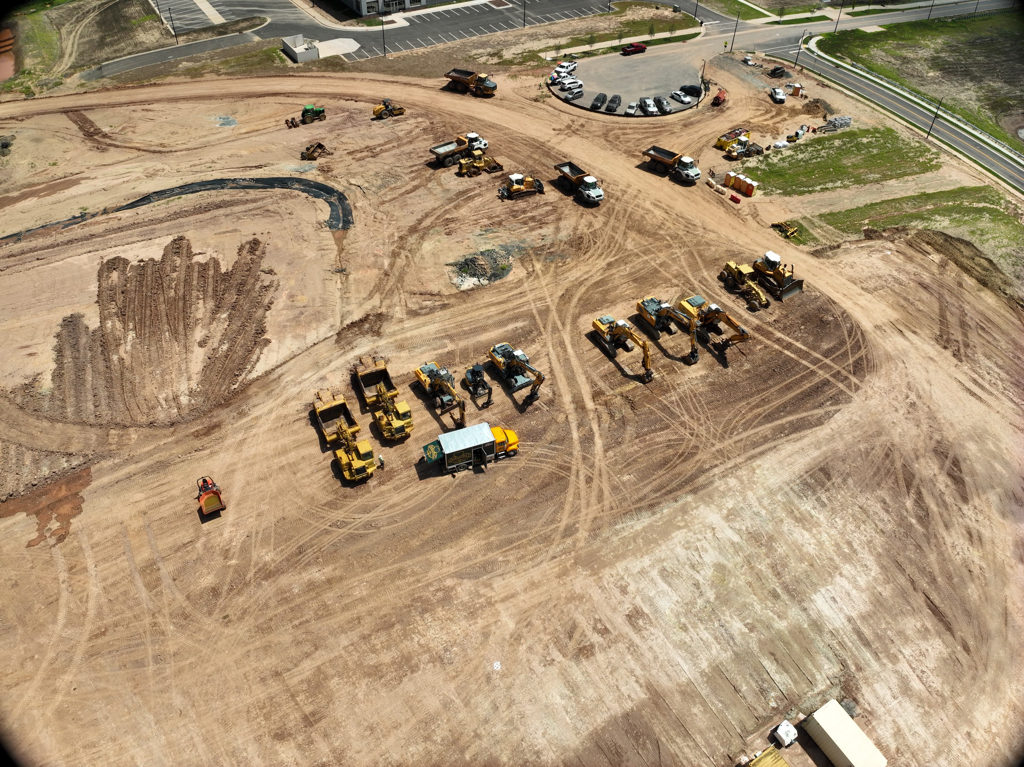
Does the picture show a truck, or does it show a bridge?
truck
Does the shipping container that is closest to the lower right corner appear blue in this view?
No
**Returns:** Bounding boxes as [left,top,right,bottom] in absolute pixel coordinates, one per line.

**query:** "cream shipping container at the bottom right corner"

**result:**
[804,697,894,767]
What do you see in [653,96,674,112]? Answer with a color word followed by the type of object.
gray vehicle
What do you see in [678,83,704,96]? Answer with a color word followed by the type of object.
black vehicle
